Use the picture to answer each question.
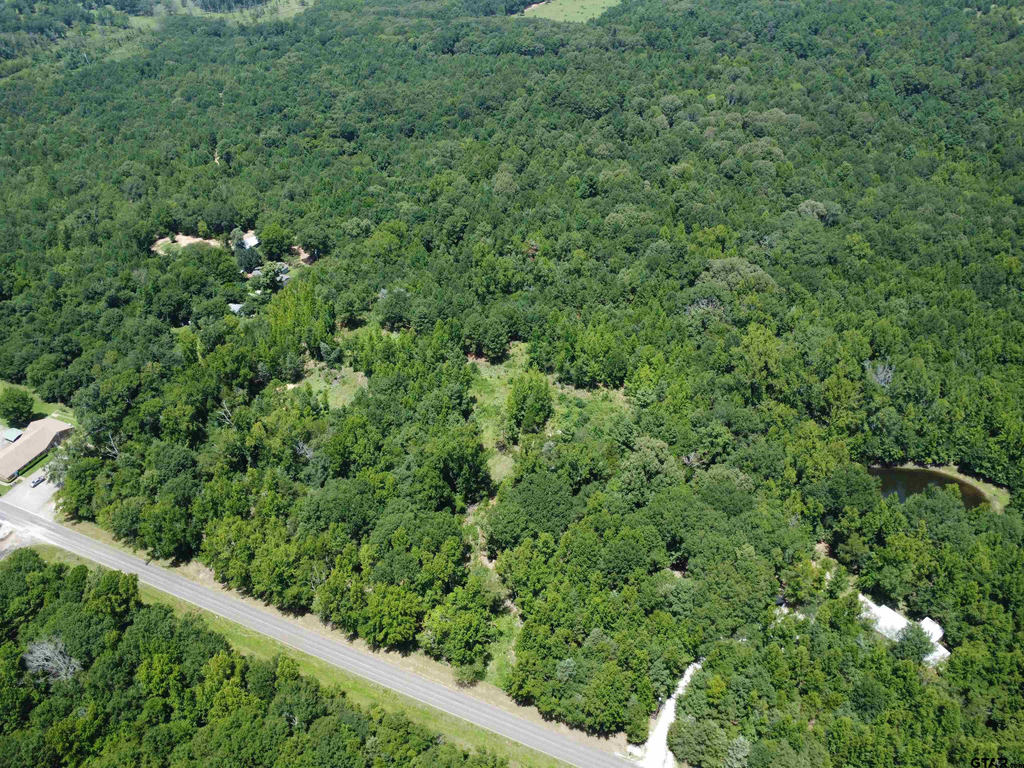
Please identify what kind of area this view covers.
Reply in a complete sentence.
This image shows a forest.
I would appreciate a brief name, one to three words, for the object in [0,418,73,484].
building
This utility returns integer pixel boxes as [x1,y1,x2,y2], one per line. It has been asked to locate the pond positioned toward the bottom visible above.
[864,467,990,517]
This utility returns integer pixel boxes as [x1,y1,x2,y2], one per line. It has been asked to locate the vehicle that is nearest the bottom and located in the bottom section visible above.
[29,476,47,488]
